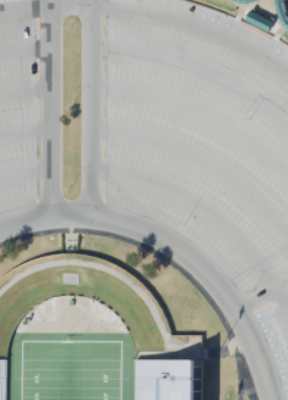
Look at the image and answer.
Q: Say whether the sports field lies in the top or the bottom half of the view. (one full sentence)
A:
It is in the bottom half that the sports field appears.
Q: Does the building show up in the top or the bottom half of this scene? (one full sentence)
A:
Seen from above, the building lies in the top half of the view.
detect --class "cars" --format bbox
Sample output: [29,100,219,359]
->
[188,5,194,13]
[24,28,28,39]
[32,64,36,74]
[256,289,266,296]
